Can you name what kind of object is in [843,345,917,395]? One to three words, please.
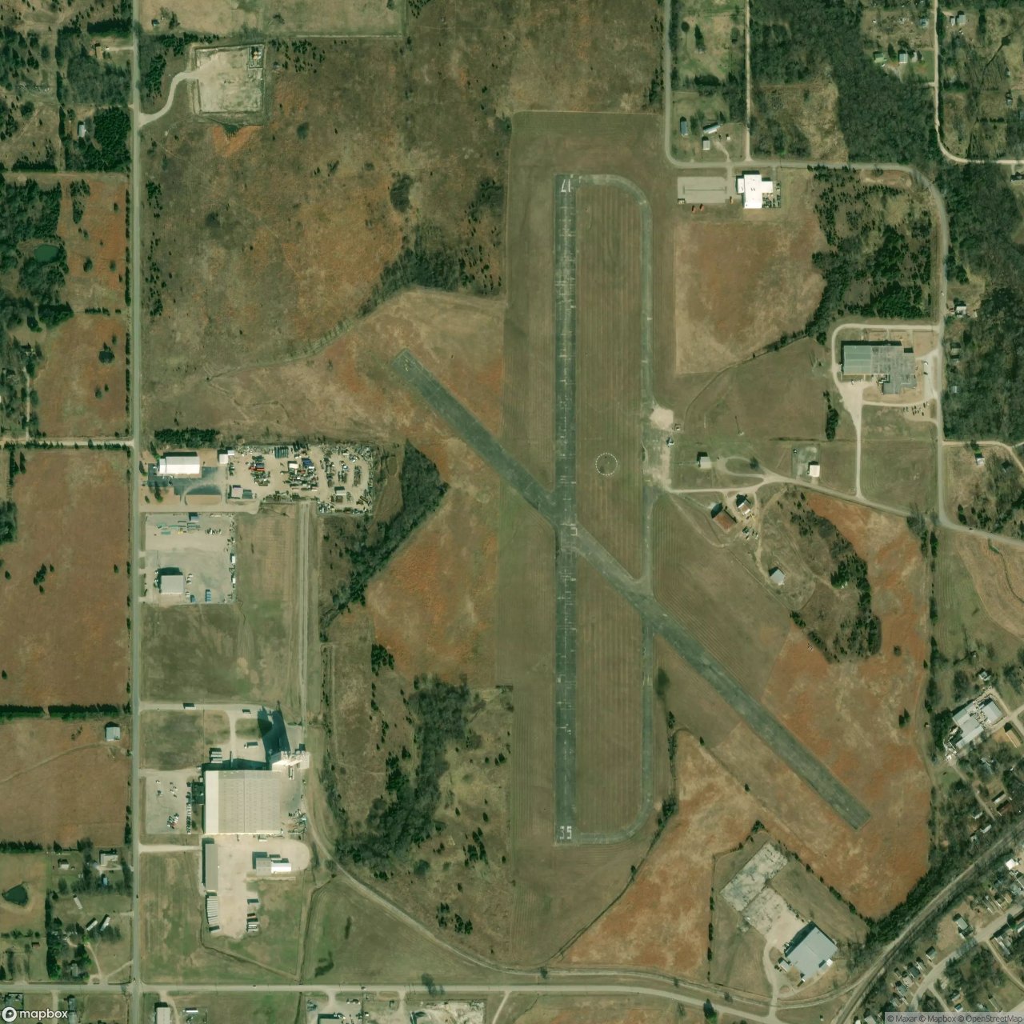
building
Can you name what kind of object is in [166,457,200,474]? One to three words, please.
building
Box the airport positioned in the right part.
[390,174,872,845]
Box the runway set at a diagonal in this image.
[390,350,872,830]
